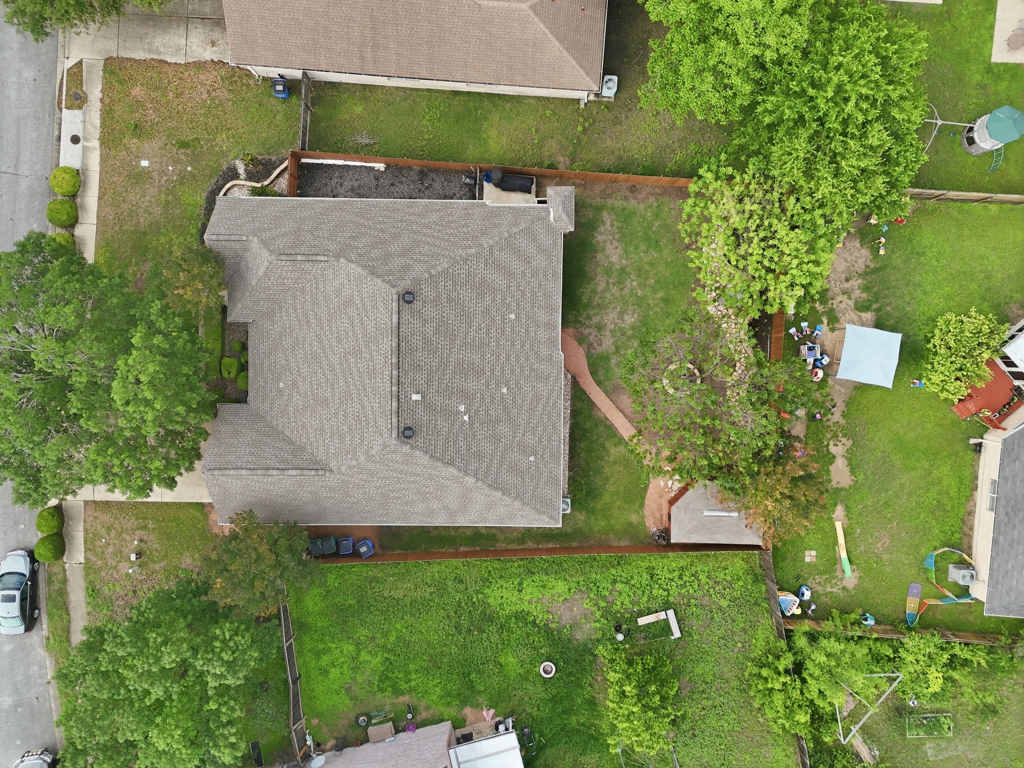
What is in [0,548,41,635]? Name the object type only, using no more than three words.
car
